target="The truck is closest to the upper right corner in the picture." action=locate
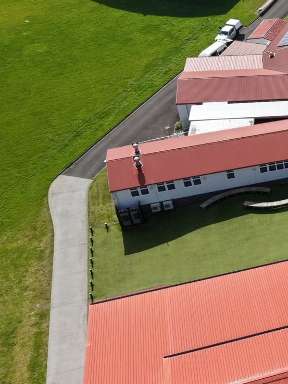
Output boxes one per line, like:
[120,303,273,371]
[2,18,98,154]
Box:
[215,13,242,43]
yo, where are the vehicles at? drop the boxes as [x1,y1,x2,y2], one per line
[215,13,242,43]
[196,35,229,57]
